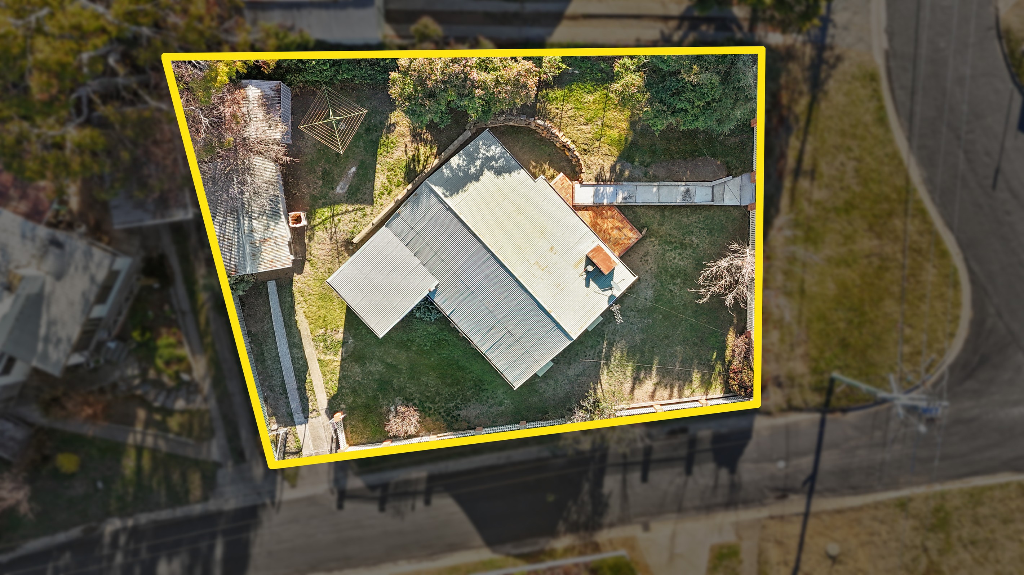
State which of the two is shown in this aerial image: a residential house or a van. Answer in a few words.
residential house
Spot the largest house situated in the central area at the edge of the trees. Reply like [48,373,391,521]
[326,129,639,391]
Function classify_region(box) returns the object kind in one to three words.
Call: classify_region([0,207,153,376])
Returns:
house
